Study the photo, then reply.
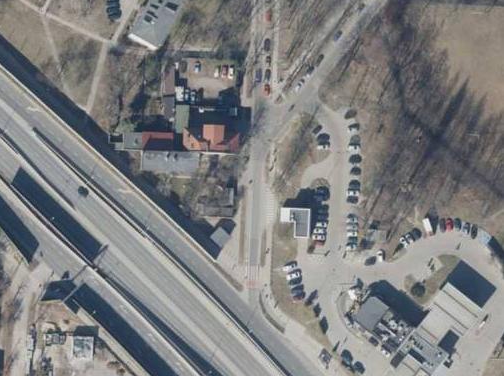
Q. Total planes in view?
0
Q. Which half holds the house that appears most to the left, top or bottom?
bottom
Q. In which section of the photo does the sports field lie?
top right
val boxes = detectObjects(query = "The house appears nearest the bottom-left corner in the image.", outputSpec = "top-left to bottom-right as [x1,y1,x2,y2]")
[73,337,93,359]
